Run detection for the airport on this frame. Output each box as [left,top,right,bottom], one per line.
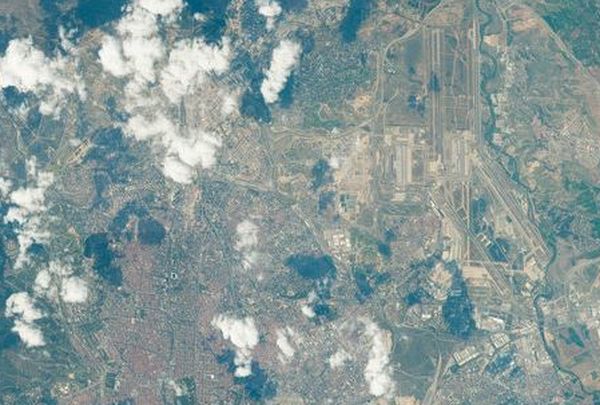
[384,18,553,300]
